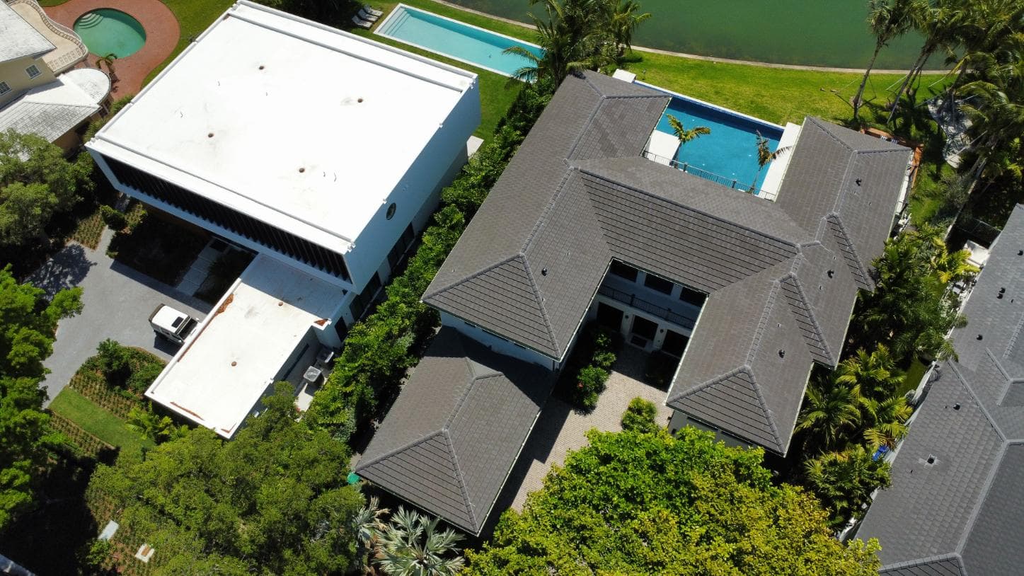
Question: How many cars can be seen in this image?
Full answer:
Altogether the scene contains 1 car.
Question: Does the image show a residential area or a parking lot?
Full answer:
It's a residential area.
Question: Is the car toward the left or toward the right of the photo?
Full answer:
The car appears in the left half of the scene.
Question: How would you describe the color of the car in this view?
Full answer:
In this view, the car is white.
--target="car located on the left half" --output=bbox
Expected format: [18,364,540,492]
[150,305,201,346]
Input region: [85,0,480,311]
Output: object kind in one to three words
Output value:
house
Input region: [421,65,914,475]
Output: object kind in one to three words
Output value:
house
